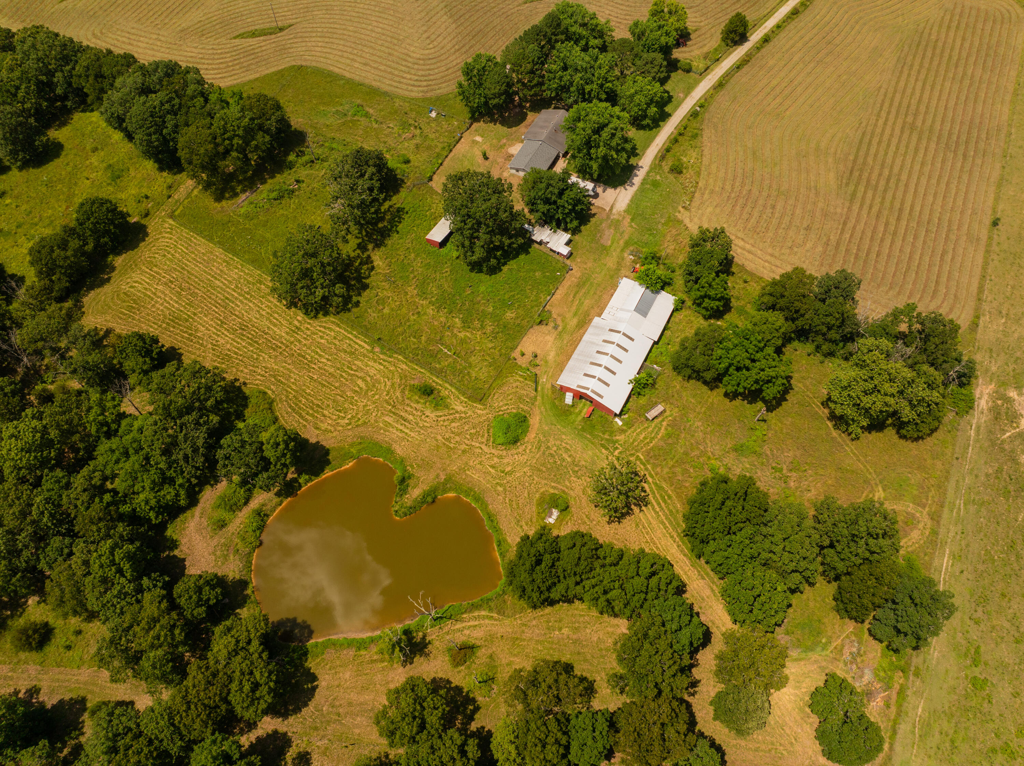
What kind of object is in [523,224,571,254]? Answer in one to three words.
shed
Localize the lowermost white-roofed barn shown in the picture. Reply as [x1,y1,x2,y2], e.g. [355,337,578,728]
[557,278,680,416]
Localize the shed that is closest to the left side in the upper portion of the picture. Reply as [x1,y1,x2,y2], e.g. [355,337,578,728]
[425,215,450,248]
